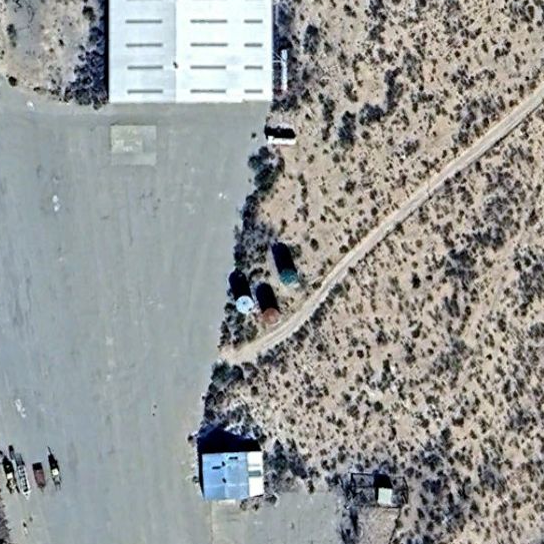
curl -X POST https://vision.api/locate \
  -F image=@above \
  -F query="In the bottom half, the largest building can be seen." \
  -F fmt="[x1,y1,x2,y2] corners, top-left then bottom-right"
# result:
[203,454,264,506]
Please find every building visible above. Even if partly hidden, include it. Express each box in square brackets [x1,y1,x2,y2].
[203,454,264,506]
[379,489,393,505]
[109,0,273,102]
